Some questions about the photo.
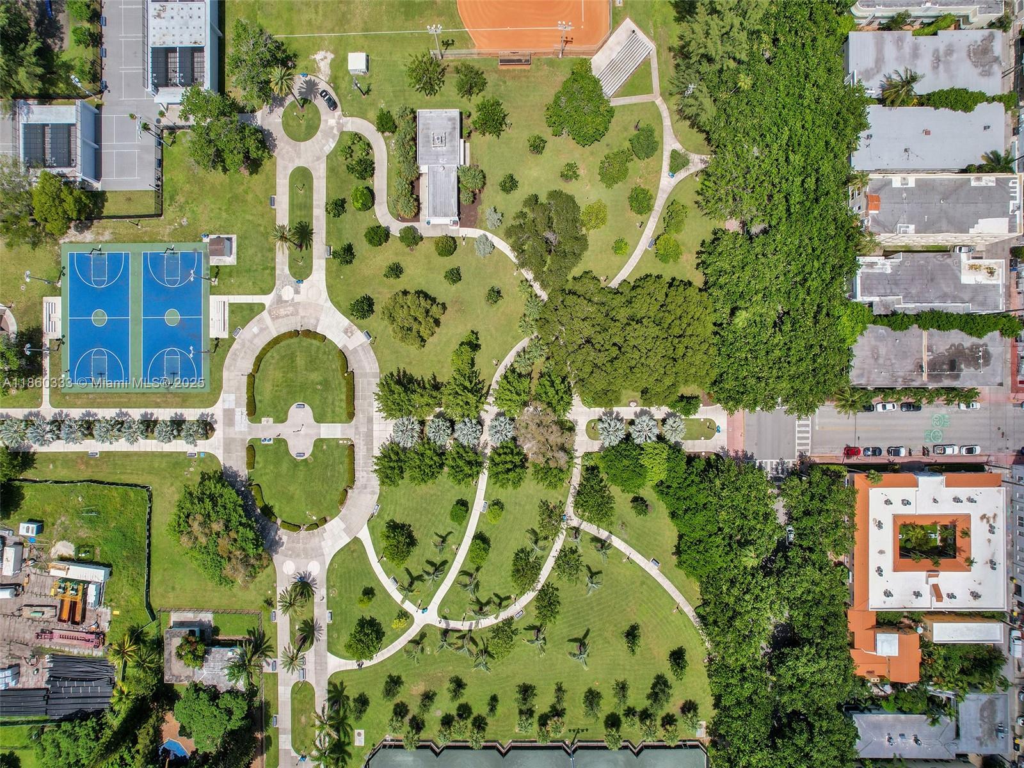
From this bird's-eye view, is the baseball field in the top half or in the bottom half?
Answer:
top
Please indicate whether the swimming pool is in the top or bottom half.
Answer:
bottom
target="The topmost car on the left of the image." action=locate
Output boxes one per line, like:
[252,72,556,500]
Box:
[318,86,337,109]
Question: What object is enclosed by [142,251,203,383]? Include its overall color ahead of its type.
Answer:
blue basketball court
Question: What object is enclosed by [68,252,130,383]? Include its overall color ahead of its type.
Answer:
blue basketball court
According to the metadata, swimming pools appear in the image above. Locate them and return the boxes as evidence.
[157,737,189,768]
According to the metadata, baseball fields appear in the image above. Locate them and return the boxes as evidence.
[281,0,609,54]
